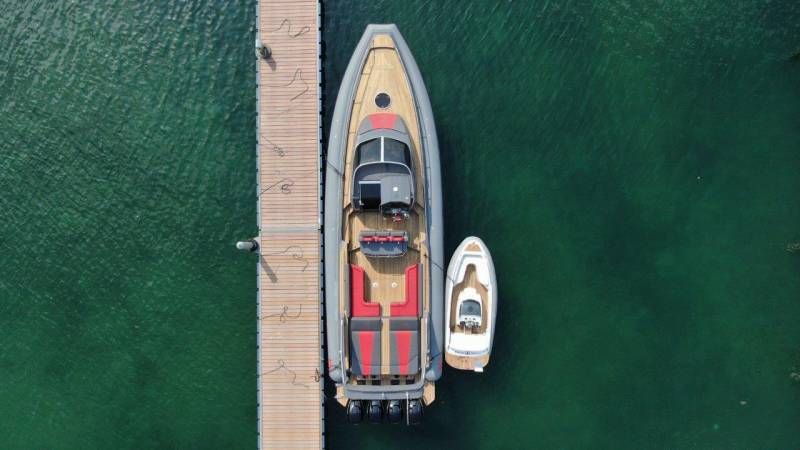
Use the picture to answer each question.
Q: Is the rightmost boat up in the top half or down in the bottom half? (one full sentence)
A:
It is in the bottom half that the rightmost boat appears.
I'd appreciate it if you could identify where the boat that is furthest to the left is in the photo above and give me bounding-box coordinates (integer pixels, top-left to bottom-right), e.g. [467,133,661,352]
[324,23,445,425]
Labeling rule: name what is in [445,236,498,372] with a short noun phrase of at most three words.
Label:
boat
